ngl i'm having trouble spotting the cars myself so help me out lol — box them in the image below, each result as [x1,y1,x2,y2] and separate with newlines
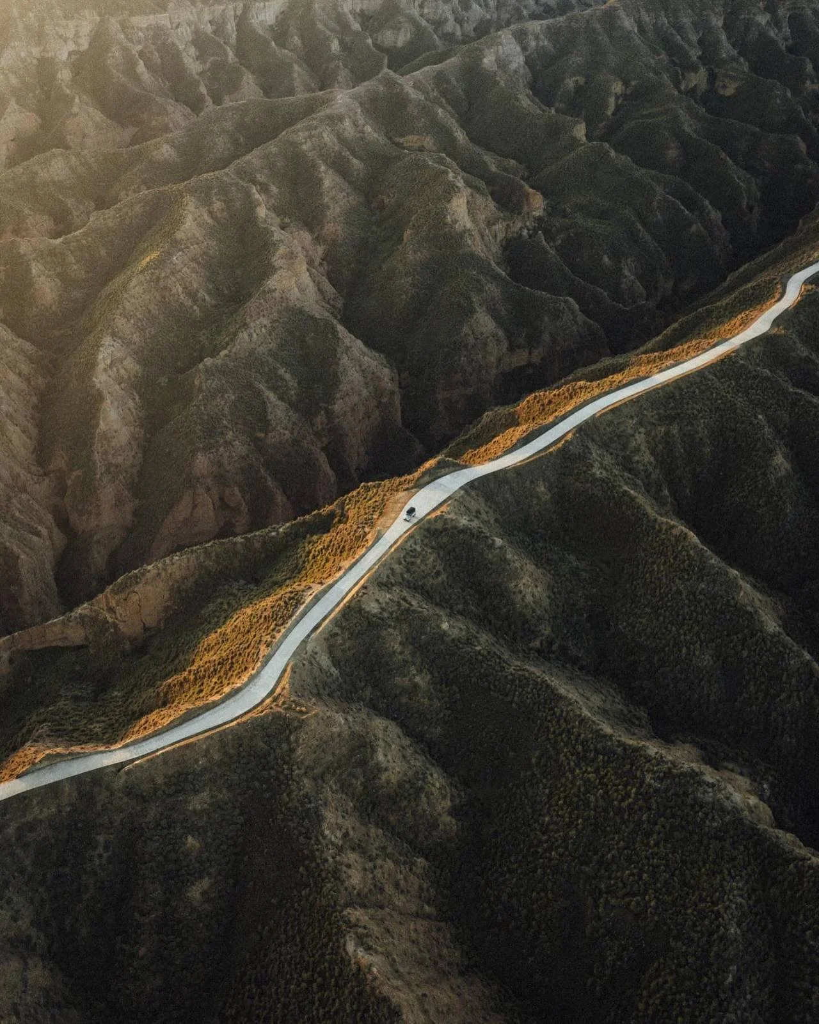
[403,506,417,521]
